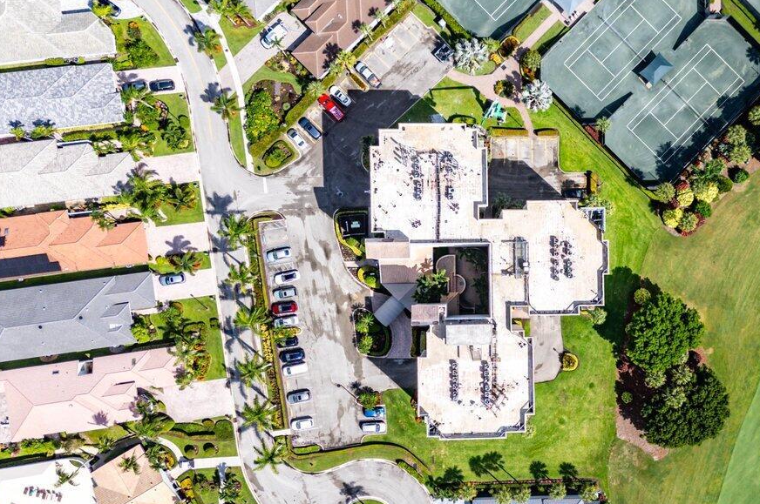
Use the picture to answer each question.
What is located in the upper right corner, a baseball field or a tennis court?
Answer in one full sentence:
Visible in the upper right corner is a tennis court.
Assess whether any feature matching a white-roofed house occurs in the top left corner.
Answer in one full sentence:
Yes, a white-roofed house shows up in the top left corner.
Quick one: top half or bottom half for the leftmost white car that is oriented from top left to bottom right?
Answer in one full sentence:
It is in the top half that the leftmost white car that is oriented from top left to bottom right appears.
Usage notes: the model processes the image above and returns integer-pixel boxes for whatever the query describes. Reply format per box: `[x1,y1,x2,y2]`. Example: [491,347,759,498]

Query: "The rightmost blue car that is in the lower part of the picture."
[363,405,387,418]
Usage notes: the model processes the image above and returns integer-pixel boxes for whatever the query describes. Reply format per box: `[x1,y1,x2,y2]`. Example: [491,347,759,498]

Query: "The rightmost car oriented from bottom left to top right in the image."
[433,42,453,63]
